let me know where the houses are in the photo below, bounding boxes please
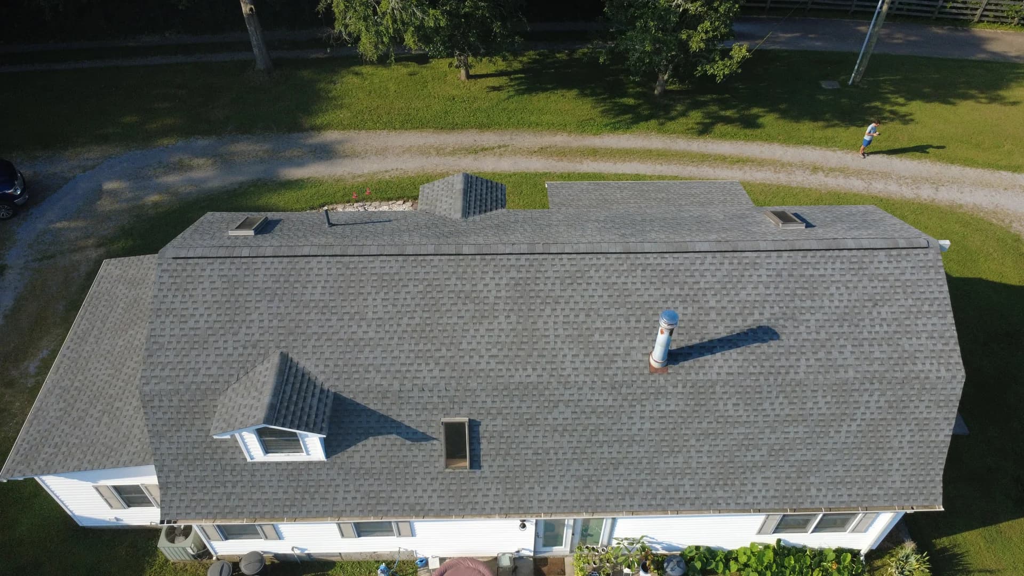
[0,168,966,567]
